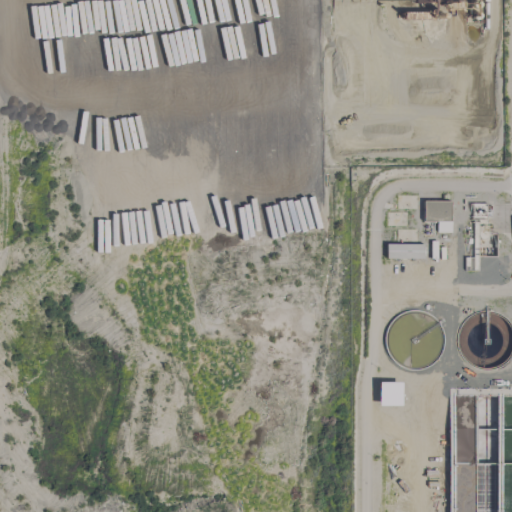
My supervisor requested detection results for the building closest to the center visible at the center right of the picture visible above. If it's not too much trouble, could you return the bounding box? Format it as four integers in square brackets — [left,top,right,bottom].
[389,244,428,259]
